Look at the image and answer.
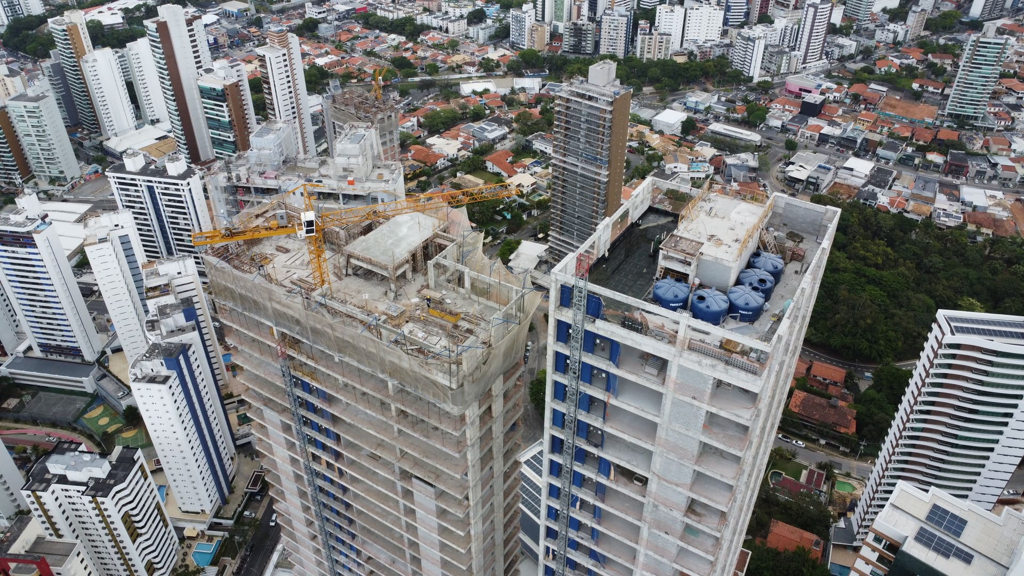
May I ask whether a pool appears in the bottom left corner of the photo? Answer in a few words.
Yes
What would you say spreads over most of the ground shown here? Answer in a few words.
buildings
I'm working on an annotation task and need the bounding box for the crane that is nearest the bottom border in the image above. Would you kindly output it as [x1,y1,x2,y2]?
[189,181,525,343]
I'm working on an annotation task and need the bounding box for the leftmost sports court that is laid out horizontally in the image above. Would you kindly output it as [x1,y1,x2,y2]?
[22,392,89,420]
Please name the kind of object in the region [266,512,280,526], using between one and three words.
car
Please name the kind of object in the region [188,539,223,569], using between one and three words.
swimming pool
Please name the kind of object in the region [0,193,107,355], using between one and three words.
building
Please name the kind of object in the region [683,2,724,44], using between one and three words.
building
